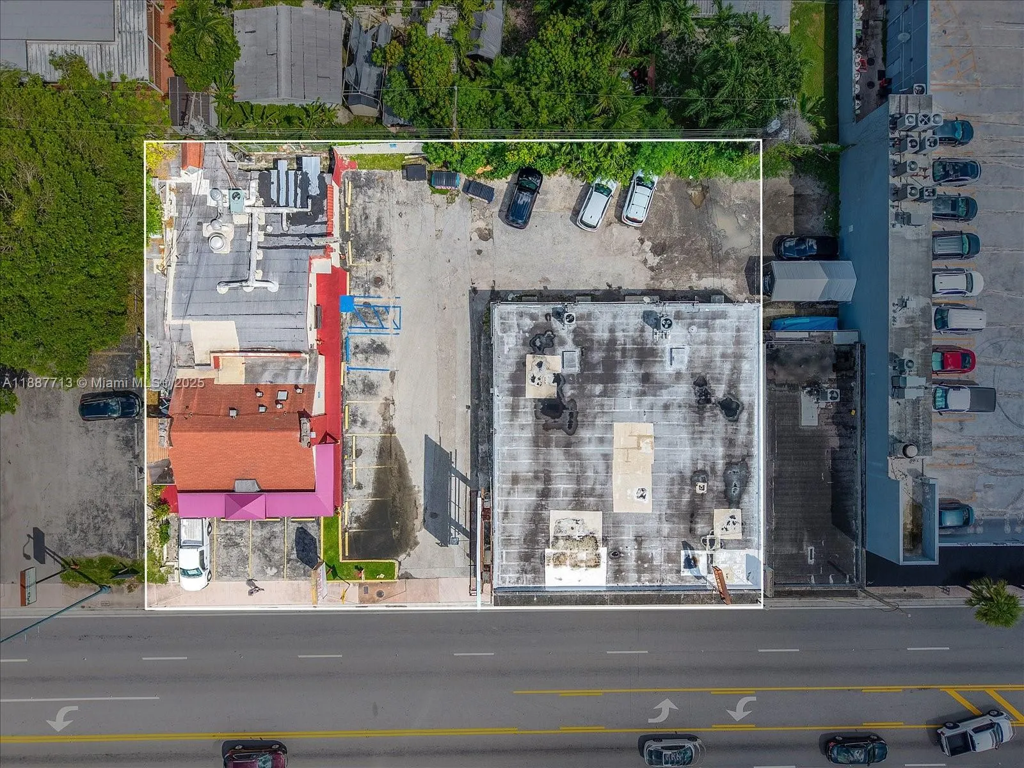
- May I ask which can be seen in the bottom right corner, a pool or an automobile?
automobile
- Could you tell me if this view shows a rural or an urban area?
urban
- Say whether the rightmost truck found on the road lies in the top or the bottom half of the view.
bottom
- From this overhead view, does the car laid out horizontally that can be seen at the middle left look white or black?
black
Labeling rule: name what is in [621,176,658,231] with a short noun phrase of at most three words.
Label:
car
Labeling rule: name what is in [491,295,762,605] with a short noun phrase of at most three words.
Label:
building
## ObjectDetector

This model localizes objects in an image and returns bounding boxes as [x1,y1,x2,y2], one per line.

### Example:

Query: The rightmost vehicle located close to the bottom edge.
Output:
[934,709,1012,757]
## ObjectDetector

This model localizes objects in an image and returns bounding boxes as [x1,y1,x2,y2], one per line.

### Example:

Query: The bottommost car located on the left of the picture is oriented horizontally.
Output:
[224,737,290,768]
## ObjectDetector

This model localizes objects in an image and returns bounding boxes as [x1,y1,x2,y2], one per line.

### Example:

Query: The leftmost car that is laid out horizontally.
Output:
[78,390,147,421]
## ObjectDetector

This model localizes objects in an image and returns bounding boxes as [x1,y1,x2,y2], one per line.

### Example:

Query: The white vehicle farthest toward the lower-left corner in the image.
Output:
[176,517,212,588]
